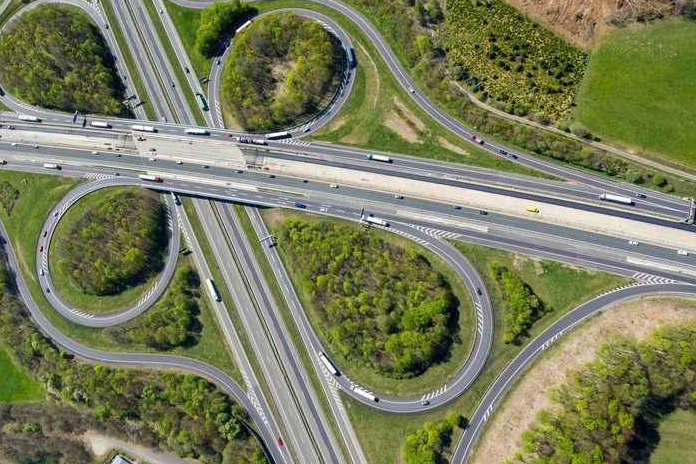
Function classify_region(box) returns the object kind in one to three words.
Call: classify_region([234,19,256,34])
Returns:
vehicle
